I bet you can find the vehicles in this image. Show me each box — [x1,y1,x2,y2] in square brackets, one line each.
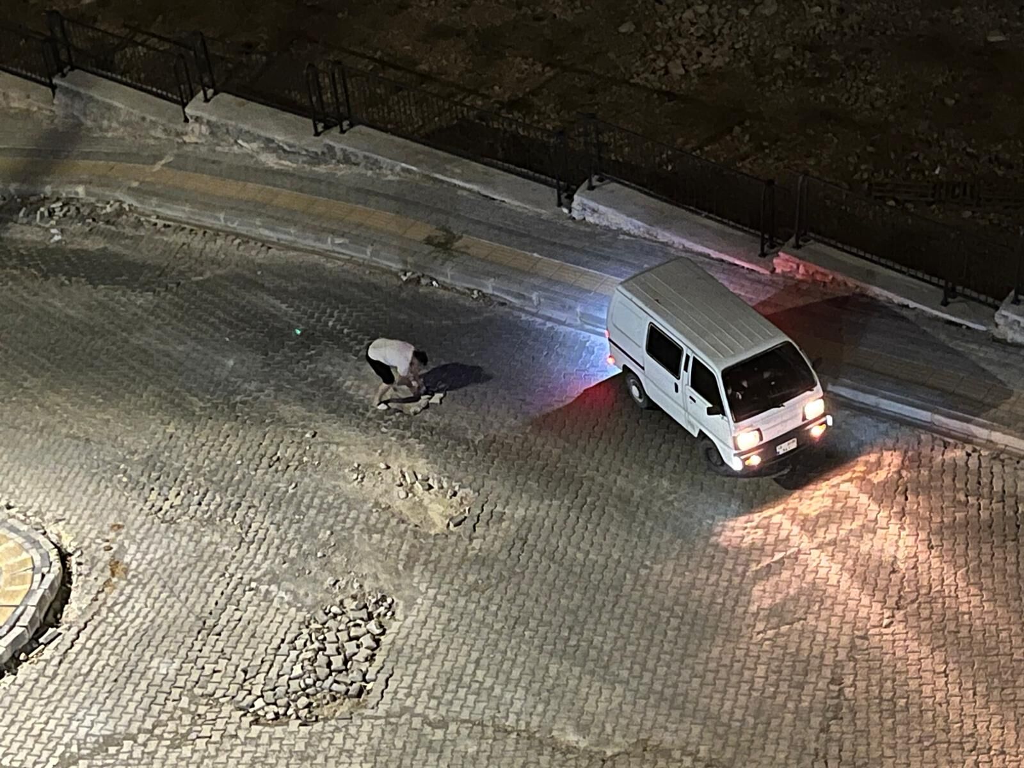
[612,262,833,473]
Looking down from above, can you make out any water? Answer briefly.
No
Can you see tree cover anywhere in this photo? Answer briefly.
No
